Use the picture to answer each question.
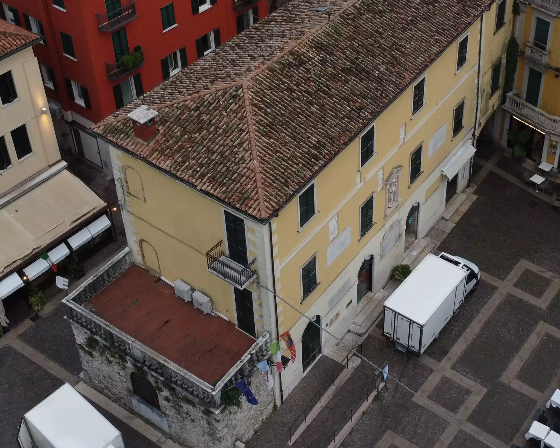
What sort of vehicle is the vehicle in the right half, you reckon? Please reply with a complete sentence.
It looks like the vehicle in the right half is a truck.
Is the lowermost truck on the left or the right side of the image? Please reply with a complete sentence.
The lowermost truck appears in the left half of the scene.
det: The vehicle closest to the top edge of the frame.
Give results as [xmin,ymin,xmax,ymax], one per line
[382,249,483,357]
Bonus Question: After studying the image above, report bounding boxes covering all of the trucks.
[13,383,125,448]
[382,249,483,357]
